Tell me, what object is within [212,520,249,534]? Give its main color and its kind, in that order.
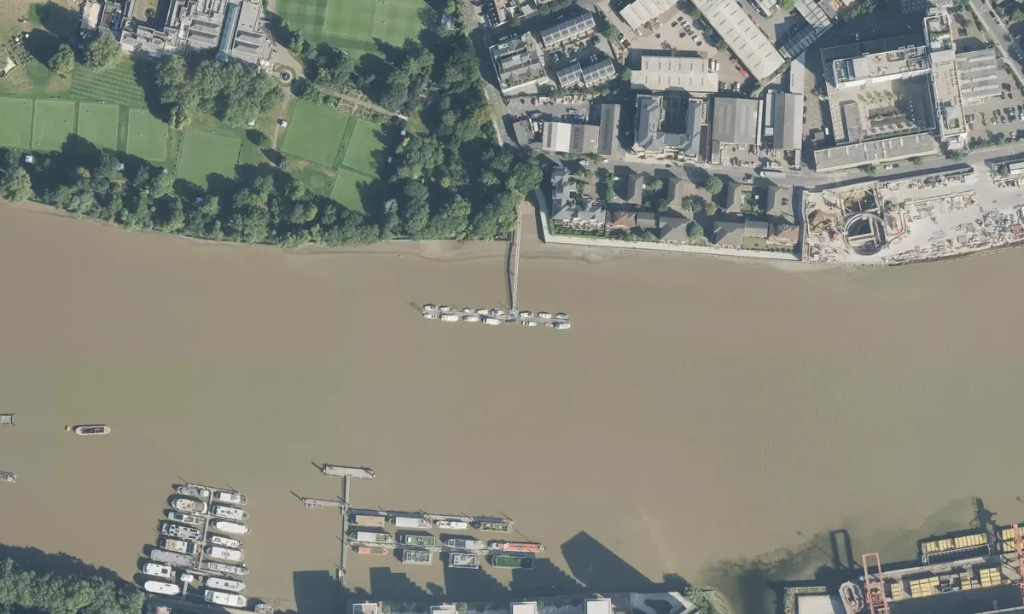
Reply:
white boat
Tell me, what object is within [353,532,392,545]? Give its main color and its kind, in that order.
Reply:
white boat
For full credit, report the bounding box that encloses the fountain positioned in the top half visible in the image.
[276,65,296,86]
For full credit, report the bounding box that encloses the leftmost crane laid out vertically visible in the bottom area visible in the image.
[859,553,885,614]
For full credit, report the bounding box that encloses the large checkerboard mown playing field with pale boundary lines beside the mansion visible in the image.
[276,0,429,66]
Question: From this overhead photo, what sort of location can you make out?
port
